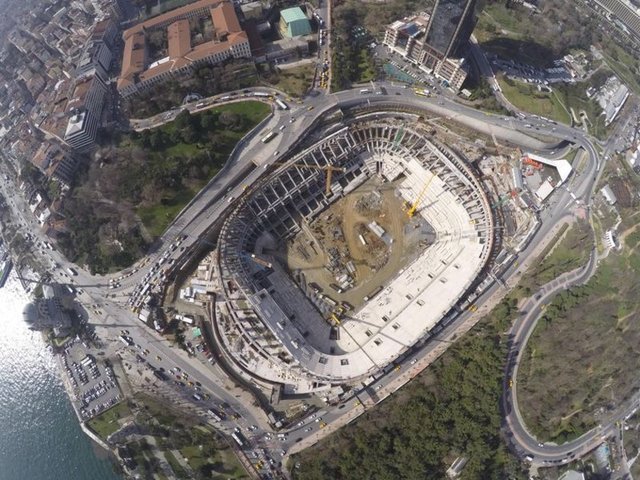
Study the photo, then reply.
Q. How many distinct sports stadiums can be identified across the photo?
1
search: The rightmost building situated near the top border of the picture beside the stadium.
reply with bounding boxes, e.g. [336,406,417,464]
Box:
[384,0,488,88]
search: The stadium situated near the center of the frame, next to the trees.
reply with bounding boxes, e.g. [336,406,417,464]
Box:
[211,120,506,406]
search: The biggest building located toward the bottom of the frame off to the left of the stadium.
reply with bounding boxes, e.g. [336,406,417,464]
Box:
[21,277,84,343]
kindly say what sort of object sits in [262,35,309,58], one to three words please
building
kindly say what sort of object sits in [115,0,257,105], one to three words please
building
